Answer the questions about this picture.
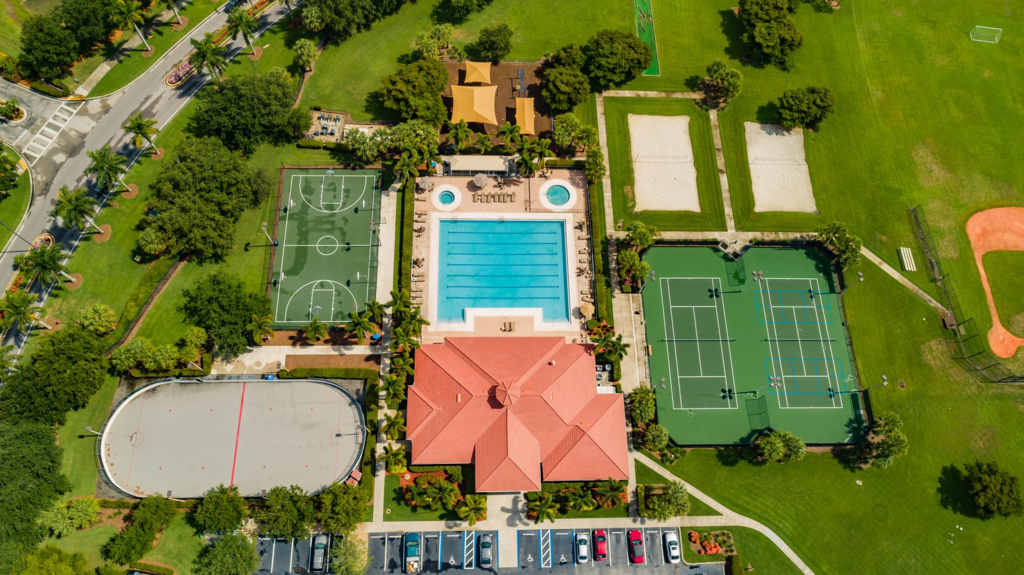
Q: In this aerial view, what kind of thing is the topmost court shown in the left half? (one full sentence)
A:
I'd identify the topmost court shown in the left half as a basketball court.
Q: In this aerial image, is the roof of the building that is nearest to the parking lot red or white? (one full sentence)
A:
The roof of the building that is nearest to the parking lot is red.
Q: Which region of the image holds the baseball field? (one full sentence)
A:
Look in the right portion of the view to spot the baseball field.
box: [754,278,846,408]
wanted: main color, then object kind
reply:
green tennis court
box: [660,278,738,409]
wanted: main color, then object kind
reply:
green tennis court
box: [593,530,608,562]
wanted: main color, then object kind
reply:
red car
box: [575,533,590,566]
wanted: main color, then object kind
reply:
white car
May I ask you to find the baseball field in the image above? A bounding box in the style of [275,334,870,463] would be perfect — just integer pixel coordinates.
[967,206,1024,358]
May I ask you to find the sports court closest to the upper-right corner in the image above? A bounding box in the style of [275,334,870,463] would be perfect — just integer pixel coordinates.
[745,121,817,214]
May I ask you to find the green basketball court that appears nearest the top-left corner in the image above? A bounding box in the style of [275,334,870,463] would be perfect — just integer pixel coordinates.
[271,168,382,330]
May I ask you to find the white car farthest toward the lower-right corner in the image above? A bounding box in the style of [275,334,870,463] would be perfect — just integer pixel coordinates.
[664,532,680,566]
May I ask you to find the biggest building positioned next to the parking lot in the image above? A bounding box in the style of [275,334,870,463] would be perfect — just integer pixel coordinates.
[406,336,630,492]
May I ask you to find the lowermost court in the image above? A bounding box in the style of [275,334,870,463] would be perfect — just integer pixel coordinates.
[98,377,363,499]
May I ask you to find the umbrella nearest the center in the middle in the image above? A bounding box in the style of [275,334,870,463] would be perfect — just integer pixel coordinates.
[580,300,596,316]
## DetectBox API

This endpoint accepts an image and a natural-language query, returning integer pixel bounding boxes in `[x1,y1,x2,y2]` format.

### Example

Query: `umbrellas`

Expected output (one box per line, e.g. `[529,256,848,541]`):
[580,300,596,316]
[473,171,489,185]
[416,172,432,186]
